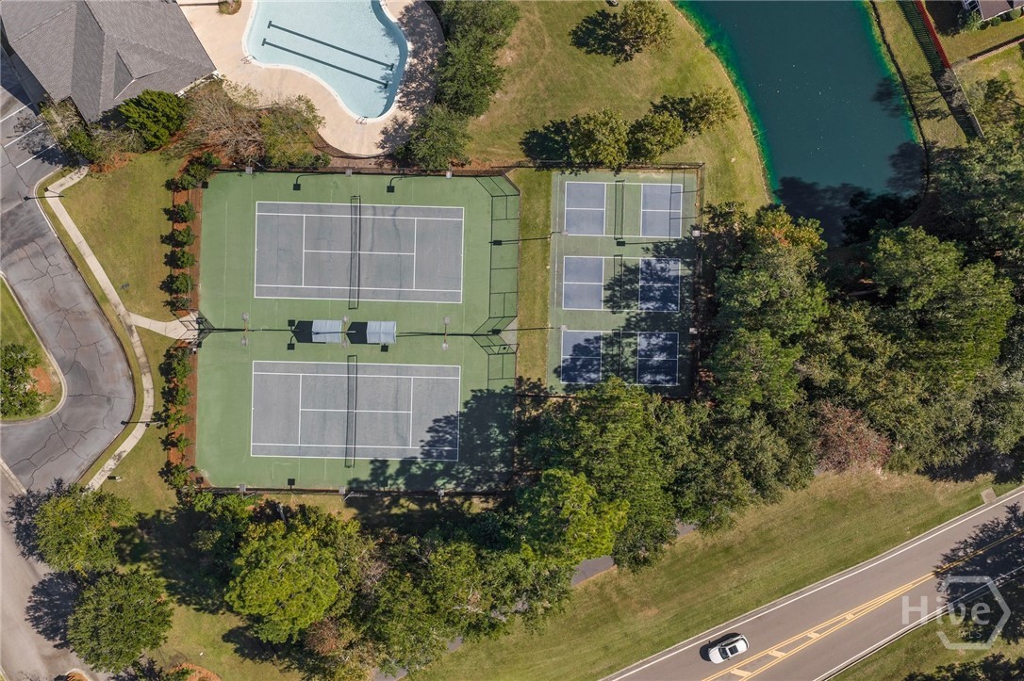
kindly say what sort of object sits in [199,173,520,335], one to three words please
tennis court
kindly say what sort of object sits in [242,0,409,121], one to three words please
swimming pool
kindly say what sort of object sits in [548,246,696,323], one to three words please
sports court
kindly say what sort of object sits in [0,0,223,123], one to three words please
building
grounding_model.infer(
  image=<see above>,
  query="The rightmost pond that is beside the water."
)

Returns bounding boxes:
[674,0,921,246]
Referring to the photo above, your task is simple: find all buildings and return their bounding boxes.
[941,0,1024,28]
[0,0,223,123]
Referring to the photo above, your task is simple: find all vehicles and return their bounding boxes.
[706,634,748,663]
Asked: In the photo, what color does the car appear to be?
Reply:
white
